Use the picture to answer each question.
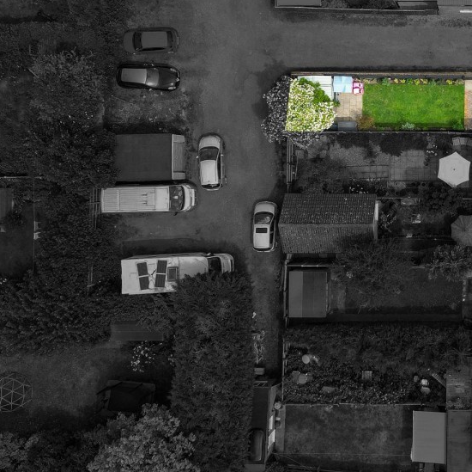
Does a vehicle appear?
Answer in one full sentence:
Yes, the image includes a vehicle.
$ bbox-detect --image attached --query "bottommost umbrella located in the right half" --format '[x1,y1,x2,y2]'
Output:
[451,214,472,246]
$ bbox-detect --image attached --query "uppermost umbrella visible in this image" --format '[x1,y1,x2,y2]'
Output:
[438,150,471,186]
